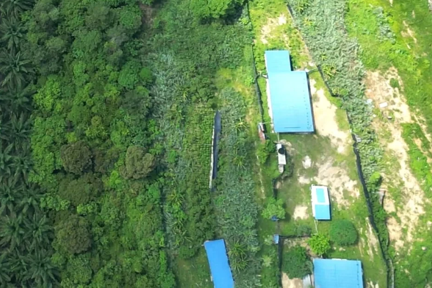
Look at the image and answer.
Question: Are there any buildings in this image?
Yes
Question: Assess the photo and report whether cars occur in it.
No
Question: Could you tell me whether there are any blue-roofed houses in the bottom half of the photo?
Yes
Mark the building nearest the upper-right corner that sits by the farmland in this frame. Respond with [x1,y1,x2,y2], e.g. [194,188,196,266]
[263,50,314,133]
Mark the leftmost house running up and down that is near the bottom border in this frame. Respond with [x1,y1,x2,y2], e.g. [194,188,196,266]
[202,239,234,288]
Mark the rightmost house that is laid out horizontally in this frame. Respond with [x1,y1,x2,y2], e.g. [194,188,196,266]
[297,259,364,288]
